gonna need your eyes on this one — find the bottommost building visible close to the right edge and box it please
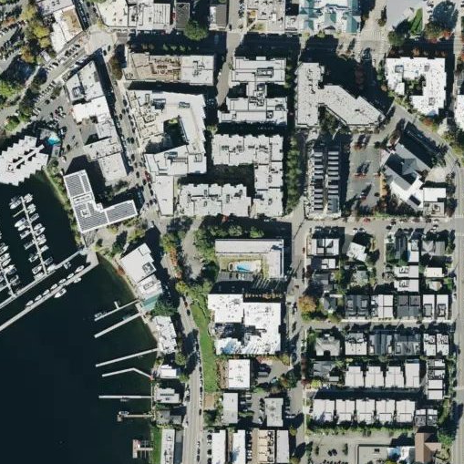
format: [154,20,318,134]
[398,433,442,464]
